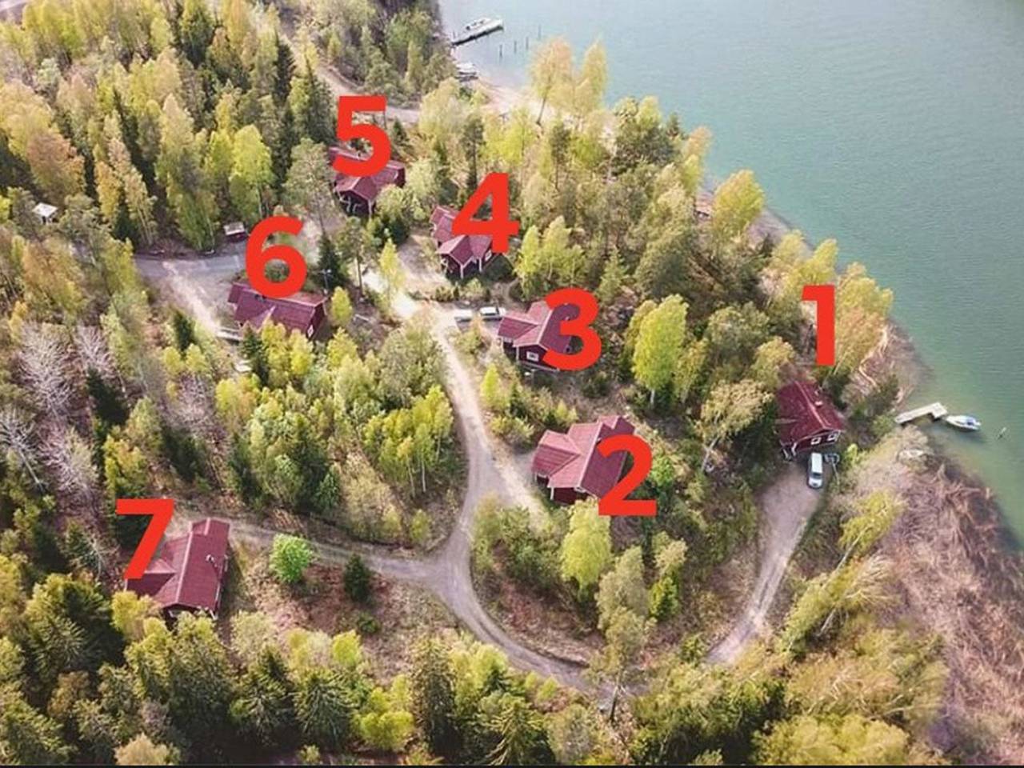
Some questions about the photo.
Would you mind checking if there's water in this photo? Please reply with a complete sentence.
Yes, water shows up in the scene.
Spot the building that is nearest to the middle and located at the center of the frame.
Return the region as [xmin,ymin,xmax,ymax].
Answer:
[497,291,582,372]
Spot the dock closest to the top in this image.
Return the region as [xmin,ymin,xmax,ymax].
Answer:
[446,22,506,46]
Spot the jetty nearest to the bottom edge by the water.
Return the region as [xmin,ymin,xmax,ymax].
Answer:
[890,403,949,427]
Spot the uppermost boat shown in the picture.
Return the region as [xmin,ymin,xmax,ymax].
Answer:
[467,19,487,32]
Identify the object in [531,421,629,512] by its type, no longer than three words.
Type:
house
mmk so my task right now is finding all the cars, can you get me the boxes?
[807,453,826,489]
[479,307,505,321]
